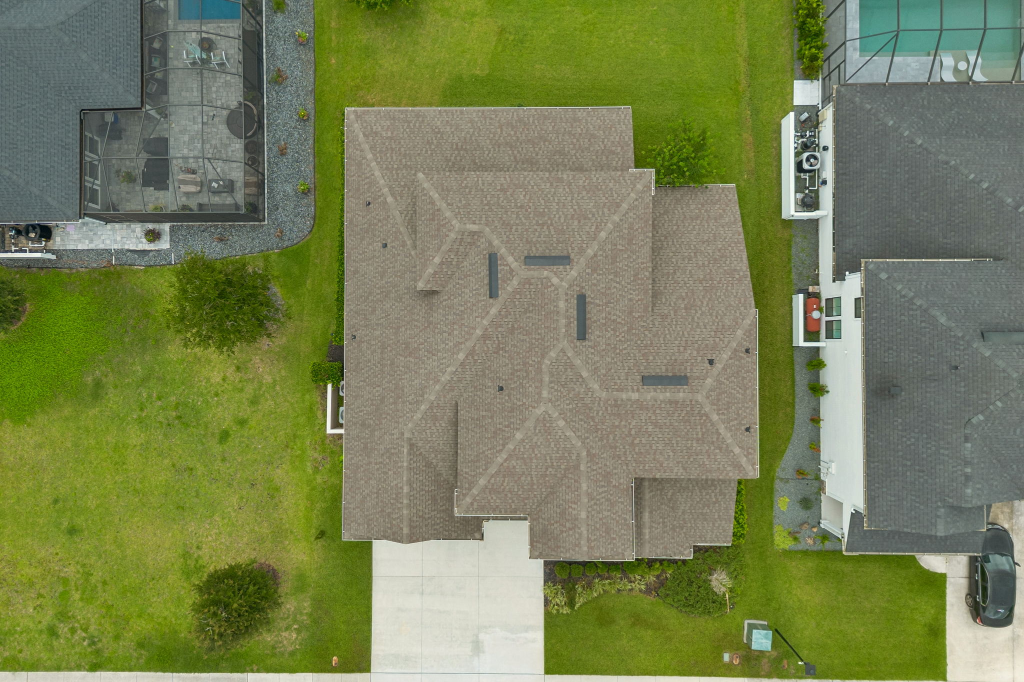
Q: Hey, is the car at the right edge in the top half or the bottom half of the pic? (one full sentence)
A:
The car at the right edge sits in the bottom half of the picture.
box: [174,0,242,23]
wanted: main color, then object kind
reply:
blue swimming pool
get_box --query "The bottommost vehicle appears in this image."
[968,524,1024,627]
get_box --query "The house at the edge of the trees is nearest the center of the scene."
[343,107,759,562]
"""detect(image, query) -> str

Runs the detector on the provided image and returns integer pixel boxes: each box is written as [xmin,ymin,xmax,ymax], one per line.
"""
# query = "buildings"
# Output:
[0,0,167,229]
[343,107,759,562]
[818,82,1024,556]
